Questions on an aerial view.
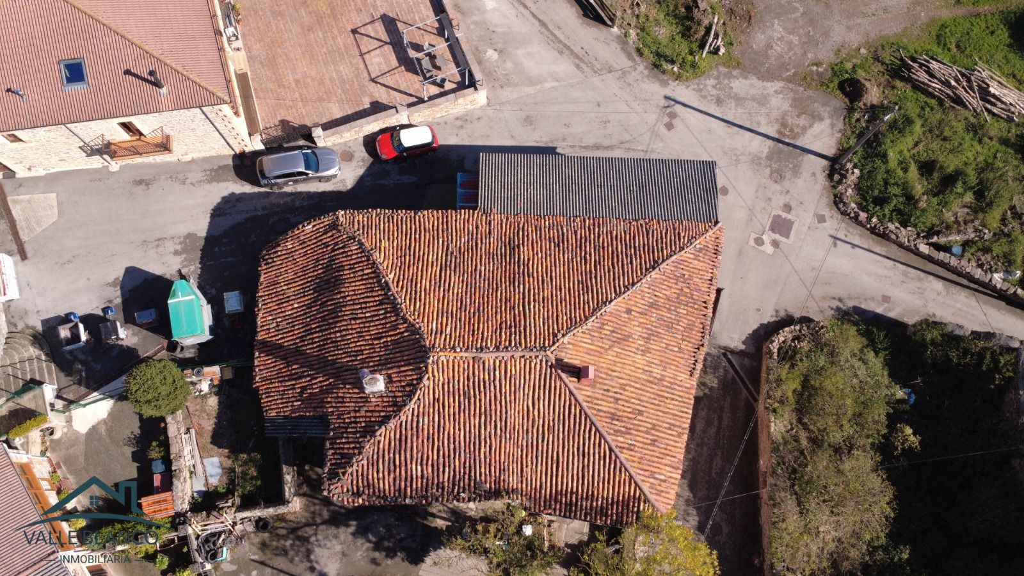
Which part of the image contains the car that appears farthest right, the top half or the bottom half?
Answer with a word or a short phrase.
top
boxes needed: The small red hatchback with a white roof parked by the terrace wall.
[376,124,441,166]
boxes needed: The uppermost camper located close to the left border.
[0,253,29,307]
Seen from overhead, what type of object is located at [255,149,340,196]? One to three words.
car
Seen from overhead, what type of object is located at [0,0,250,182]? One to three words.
house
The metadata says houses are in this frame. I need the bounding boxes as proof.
[0,0,250,182]
[250,208,726,535]
[0,442,114,576]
